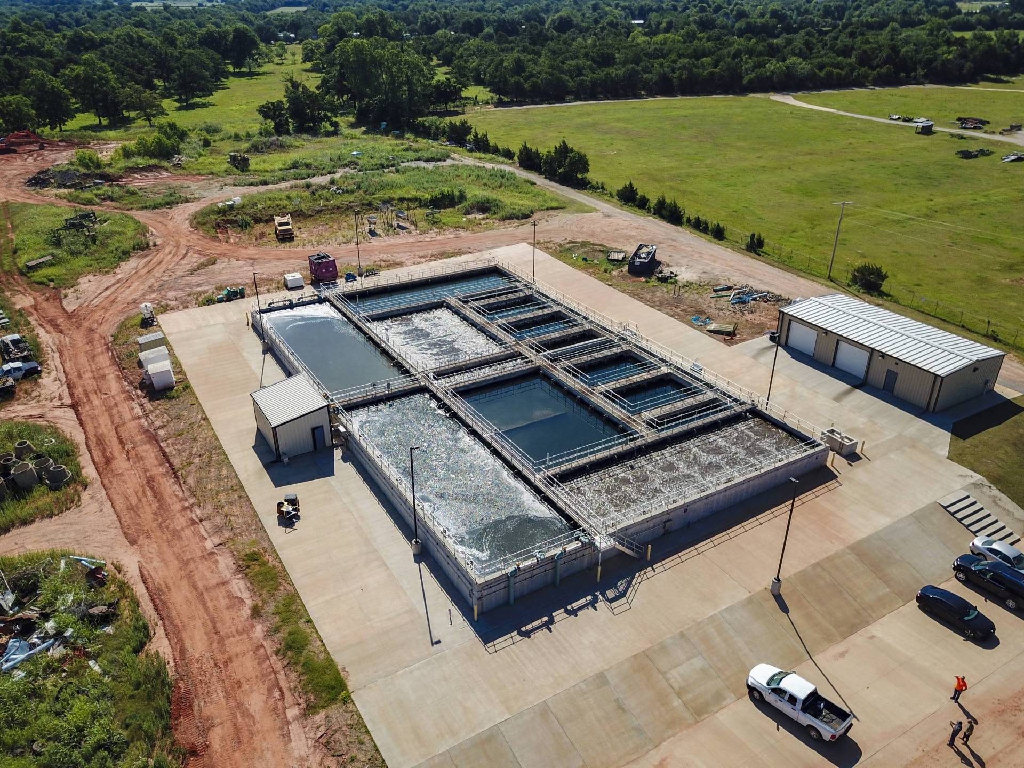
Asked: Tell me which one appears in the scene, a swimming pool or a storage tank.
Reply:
storage tank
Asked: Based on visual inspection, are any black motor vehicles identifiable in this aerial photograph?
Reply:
Yes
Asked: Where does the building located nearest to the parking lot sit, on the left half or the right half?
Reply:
right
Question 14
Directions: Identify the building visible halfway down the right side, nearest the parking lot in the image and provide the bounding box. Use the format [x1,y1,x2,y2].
[772,290,1005,415]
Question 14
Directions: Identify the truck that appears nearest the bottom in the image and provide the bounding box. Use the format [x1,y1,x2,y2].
[741,661,856,750]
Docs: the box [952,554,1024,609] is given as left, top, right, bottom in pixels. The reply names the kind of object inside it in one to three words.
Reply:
car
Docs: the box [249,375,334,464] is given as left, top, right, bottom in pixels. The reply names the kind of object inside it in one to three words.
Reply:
shed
